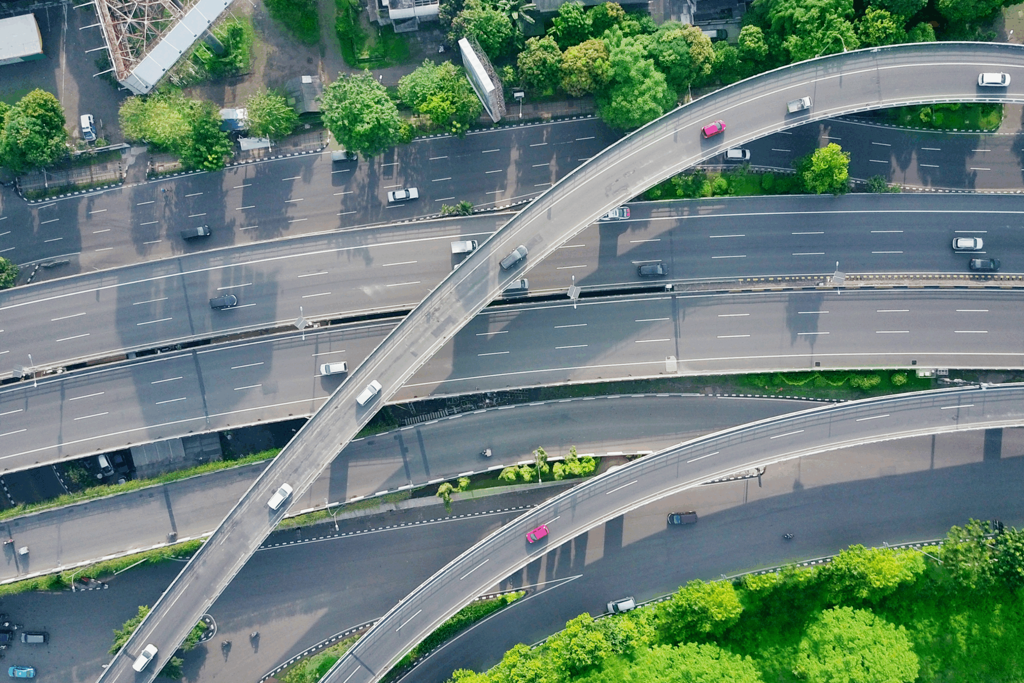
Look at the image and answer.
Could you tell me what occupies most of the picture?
paved ground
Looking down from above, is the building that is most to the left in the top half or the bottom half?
top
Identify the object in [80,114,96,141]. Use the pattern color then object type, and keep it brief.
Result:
white car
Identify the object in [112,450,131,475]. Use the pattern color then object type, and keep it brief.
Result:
black car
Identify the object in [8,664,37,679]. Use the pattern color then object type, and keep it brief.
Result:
blue car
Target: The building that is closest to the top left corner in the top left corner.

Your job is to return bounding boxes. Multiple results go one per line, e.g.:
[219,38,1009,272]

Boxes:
[0,13,53,67]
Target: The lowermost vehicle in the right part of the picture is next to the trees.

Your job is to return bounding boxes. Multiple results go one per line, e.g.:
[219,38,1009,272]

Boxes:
[607,597,637,613]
